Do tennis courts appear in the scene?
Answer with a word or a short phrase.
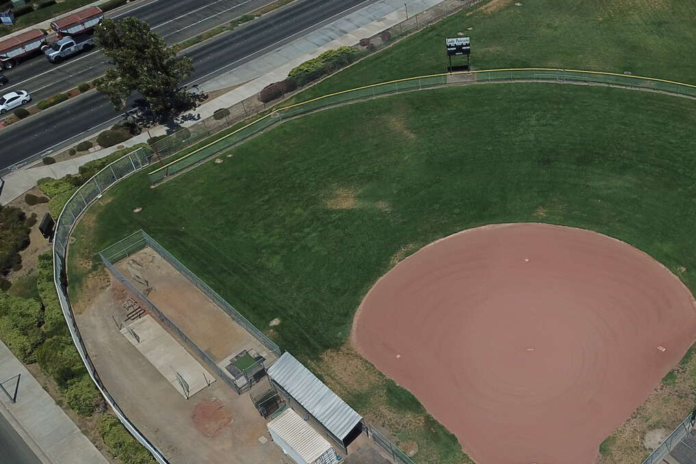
No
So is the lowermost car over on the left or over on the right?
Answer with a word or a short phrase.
left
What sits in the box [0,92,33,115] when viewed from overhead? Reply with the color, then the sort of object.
white car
